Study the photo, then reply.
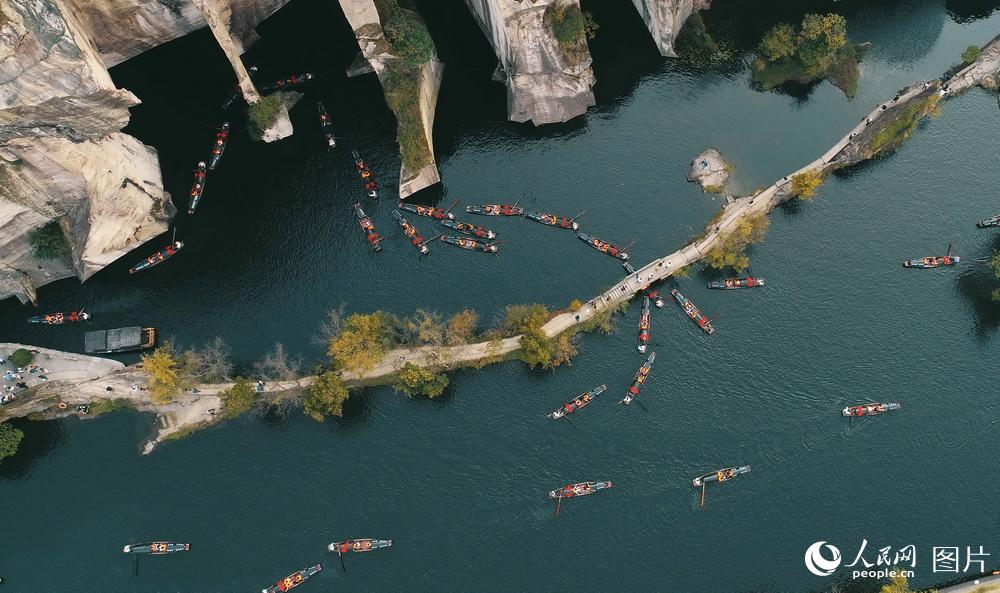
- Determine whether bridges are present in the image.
Yes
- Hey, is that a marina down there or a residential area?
marina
